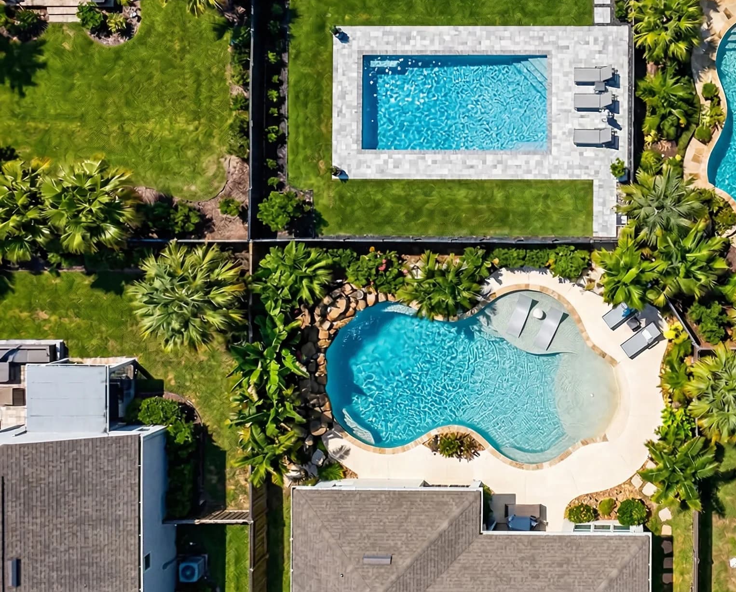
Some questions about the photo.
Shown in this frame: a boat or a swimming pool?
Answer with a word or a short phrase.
swimming pool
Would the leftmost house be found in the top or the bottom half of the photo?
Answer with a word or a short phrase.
bottom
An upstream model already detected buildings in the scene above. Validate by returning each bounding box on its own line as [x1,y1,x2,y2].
[0,426,166,592]
[291,478,653,592]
